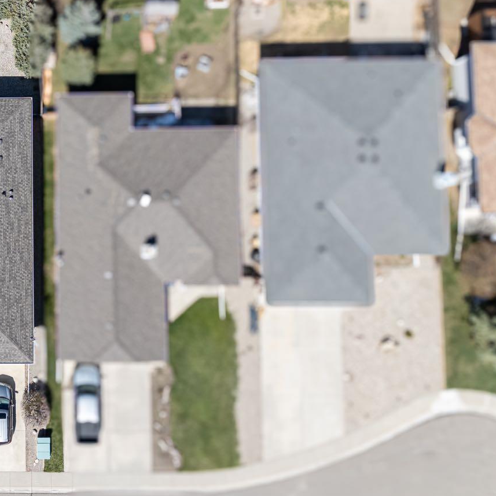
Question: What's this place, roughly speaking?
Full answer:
It's a residential area.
